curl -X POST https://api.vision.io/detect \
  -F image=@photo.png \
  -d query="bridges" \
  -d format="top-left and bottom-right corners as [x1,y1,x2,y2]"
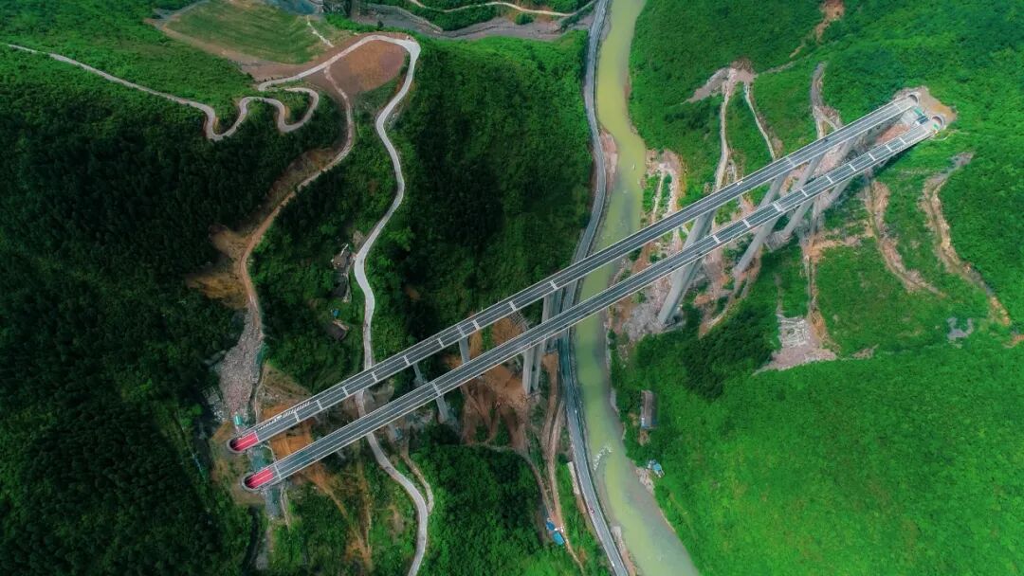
[249,117,944,490]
